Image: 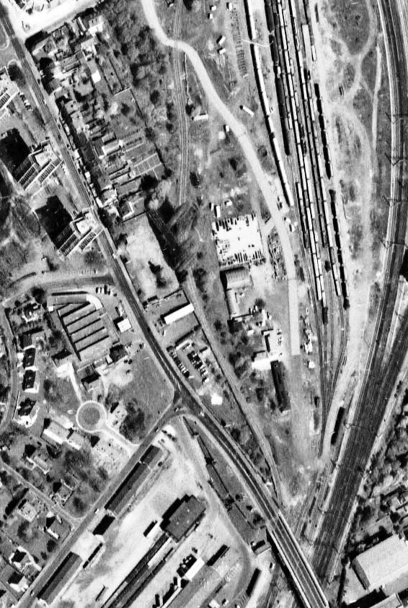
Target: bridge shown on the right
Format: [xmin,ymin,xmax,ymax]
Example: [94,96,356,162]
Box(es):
[267,509,325,608]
